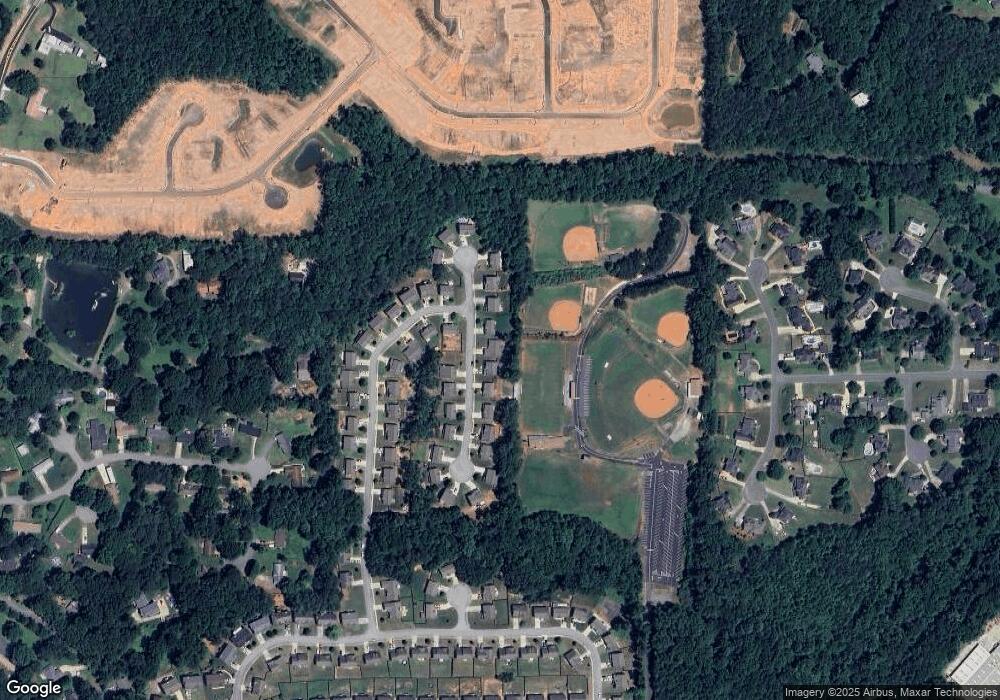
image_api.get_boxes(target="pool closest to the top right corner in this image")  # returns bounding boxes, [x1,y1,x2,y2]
[906,221,926,235]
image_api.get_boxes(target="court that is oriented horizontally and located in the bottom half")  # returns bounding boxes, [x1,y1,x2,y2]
[529,436,566,449]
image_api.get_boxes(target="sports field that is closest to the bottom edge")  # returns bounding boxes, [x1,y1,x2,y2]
[518,455,644,535]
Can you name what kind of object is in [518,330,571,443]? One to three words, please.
sports field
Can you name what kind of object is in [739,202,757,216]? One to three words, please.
swimming pool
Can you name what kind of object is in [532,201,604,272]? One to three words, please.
baseball field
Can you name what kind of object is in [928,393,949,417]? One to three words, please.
house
